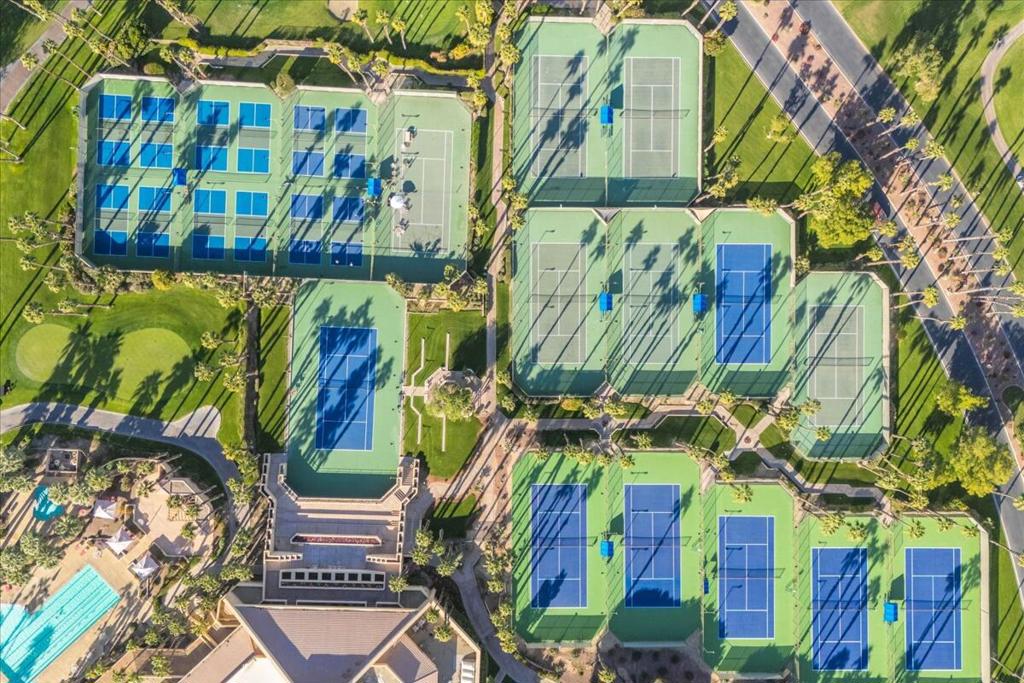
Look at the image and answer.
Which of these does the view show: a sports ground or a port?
sports ground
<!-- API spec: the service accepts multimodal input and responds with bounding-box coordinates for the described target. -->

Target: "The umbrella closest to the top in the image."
[391,196,405,209]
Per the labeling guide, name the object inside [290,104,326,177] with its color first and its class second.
blue sports court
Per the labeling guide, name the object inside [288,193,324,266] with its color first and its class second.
blue sports court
